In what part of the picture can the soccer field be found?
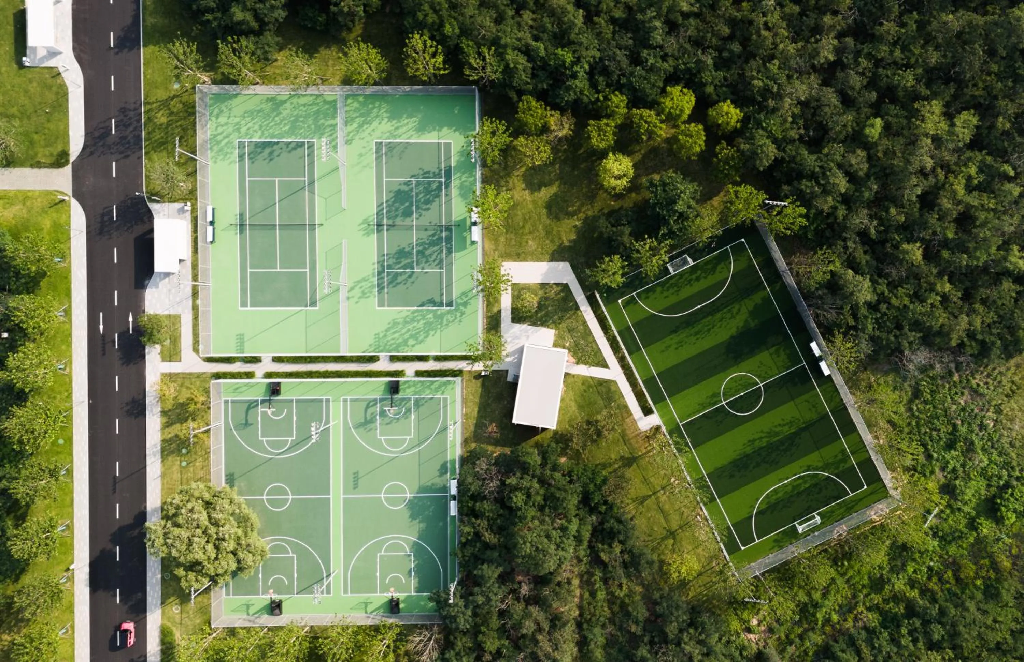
right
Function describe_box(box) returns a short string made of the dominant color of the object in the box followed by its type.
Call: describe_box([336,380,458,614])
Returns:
green basketball court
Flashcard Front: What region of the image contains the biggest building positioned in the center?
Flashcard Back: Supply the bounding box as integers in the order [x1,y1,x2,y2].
[513,344,568,429]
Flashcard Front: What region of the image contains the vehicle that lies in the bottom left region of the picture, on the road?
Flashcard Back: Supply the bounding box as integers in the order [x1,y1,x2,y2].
[117,623,134,651]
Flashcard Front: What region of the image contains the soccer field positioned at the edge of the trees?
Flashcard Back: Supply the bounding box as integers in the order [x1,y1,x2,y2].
[602,217,891,568]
